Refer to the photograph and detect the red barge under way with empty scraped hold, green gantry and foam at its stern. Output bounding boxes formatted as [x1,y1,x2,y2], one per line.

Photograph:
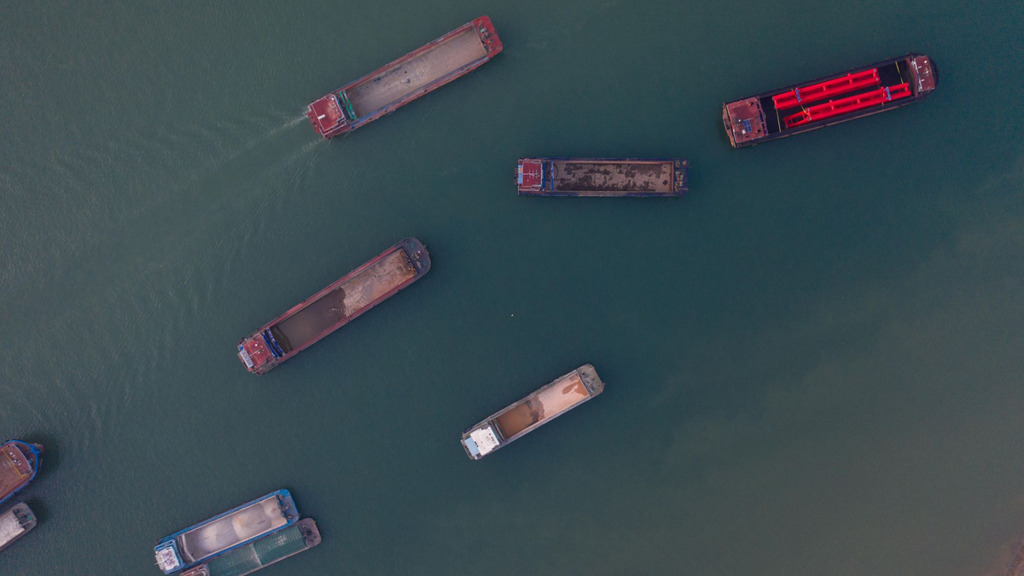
[309,15,502,139]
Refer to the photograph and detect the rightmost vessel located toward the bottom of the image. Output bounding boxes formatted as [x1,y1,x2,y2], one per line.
[460,364,607,460]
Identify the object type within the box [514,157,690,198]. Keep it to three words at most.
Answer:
ship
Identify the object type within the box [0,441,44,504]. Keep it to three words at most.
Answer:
ship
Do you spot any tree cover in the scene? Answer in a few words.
No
